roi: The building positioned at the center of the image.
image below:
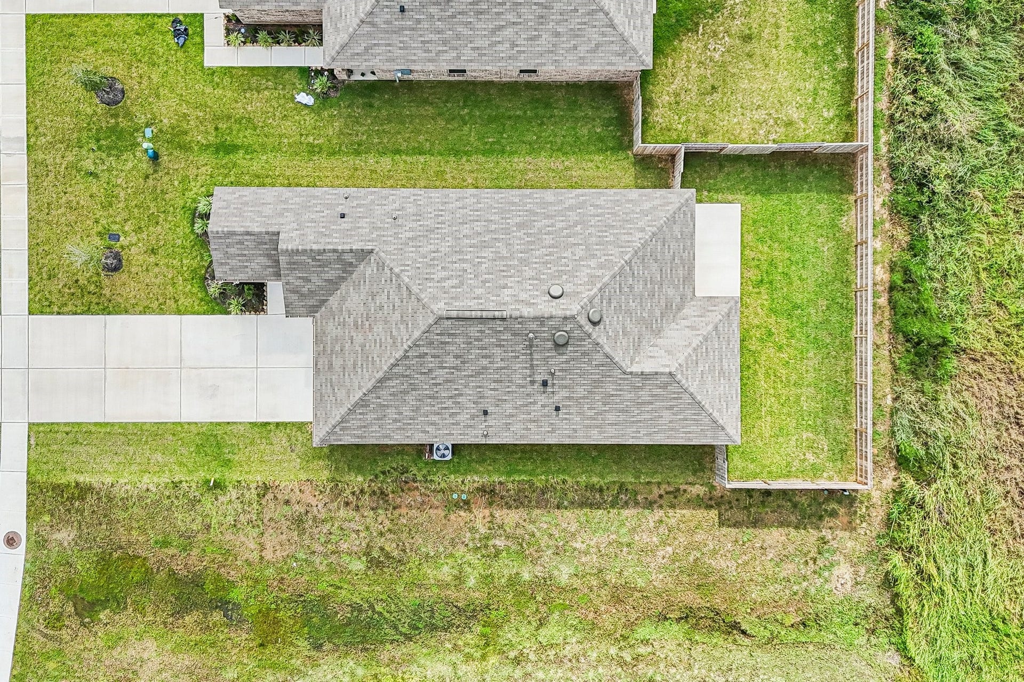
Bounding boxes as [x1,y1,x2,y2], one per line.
[208,186,742,448]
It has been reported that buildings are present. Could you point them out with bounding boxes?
[208,186,742,448]
[219,0,654,82]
